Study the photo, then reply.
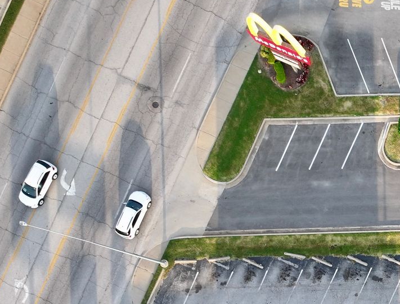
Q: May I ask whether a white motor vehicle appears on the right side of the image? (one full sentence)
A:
No, I see no white motor vehicle on the right side of the image.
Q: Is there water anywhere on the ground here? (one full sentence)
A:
No, the picture contains no water.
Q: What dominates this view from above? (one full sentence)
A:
What you mostly see from above here is paved ground.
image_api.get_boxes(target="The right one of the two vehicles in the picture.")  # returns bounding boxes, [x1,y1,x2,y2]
[116,194,150,238]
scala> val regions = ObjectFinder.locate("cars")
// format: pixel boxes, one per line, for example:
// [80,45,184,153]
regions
[116,194,150,238]
[20,160,58,206]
